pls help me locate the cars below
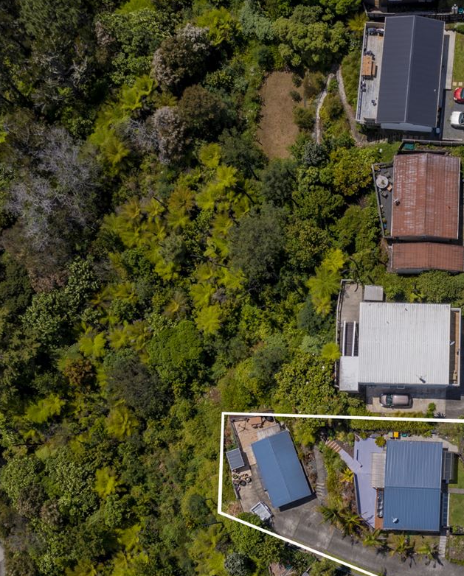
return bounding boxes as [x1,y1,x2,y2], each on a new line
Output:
[449,109,464,129]
[453,88,464,104]
[380,391,413,409]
